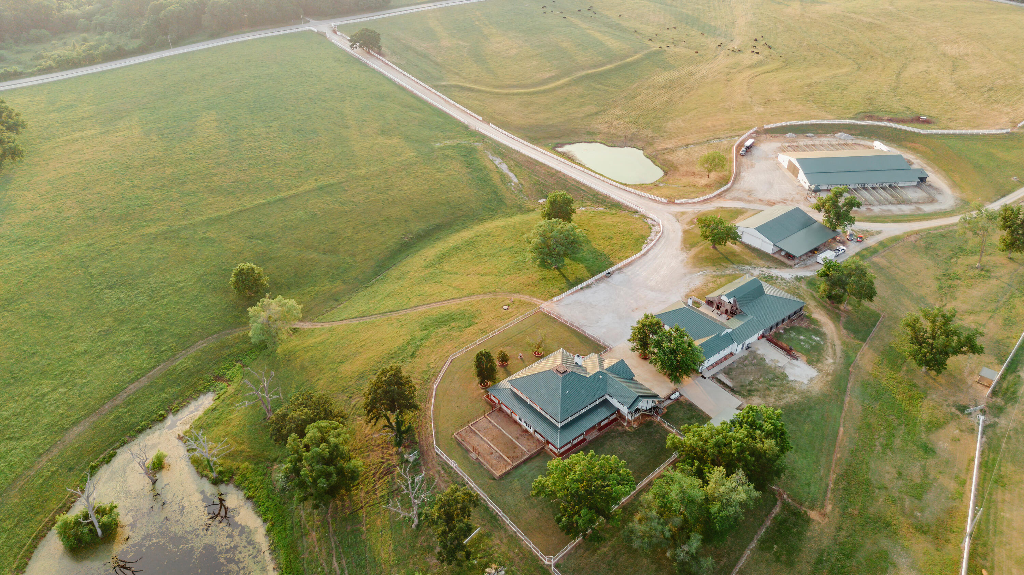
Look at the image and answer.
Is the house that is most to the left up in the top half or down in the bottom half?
bottom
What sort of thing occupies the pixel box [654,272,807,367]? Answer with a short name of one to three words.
house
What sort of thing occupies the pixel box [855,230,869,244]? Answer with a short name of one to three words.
work vehicle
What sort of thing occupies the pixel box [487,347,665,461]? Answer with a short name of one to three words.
house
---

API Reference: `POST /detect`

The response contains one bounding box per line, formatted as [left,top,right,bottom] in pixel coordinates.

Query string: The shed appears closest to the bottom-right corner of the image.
[977,371,1000,390]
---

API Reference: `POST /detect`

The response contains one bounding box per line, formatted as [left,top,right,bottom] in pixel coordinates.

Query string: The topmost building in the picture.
[780,150,928,192]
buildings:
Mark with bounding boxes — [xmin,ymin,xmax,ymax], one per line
[735,205,839,268]
[977,371,1000,390]
[487,347,665,461]
[654,272,807,367]
[780,150,928,192]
